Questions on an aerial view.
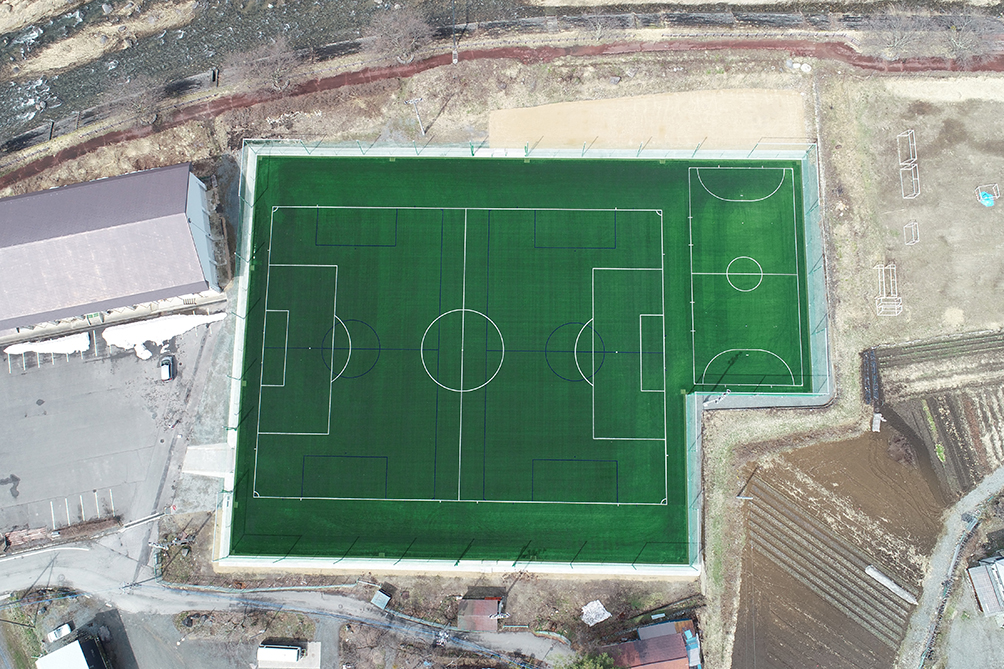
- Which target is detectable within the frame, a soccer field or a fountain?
soccer field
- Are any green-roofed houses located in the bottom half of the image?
No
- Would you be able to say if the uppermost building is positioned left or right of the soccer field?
to the left of it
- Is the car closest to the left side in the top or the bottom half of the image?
bottom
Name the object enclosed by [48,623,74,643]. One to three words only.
car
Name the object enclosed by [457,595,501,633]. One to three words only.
shed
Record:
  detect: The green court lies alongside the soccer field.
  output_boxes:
[674,160,812,391]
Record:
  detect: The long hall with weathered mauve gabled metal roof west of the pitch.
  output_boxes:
[0,160,223,330]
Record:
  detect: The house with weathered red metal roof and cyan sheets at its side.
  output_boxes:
[593,617,703,669]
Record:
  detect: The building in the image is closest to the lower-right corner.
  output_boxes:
[959,549,1004,615]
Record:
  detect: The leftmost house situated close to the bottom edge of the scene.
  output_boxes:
[36,630,123,669]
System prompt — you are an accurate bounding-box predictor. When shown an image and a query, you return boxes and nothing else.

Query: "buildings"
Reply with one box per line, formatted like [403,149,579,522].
[457,595,501,633]
[959,549,1004,615]
[36,630,123,669]
[593,617,703,669]
[0,160,223,330]
[372,589,392,609]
